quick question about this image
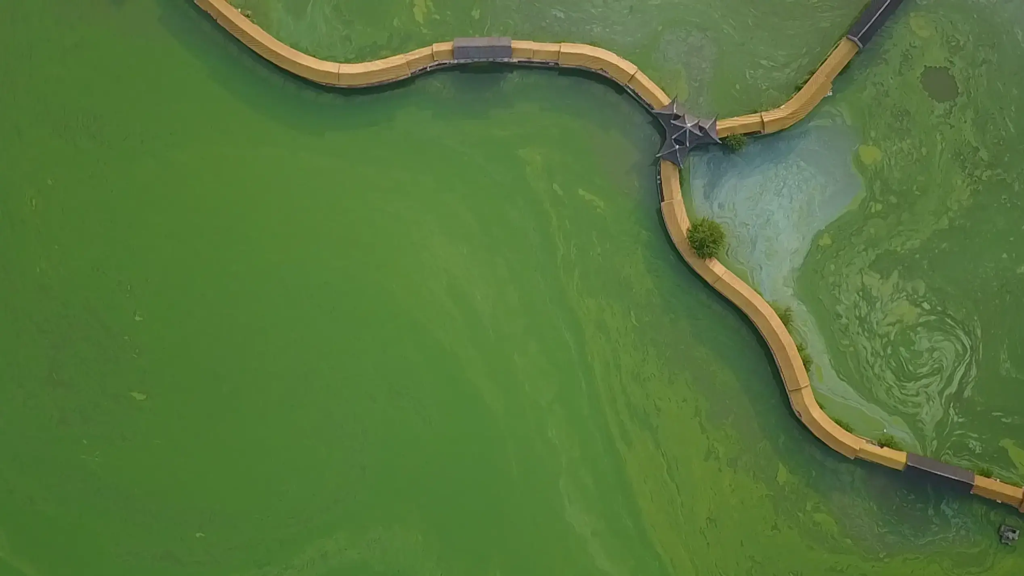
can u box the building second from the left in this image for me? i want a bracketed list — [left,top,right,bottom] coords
[651,92,724,169]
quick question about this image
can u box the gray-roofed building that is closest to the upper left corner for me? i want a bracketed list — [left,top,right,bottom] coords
[454,36,512,69]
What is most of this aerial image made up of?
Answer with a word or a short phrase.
water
